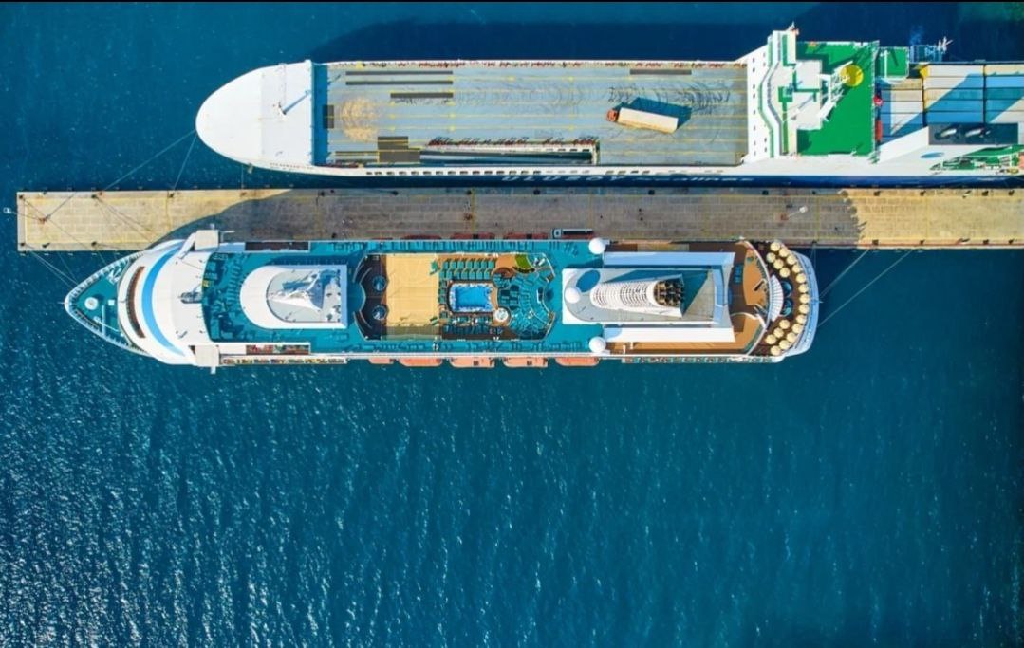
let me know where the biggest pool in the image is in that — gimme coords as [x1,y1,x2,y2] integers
[446,281,494,315]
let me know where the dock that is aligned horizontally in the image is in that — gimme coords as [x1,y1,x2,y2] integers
[17,187,1024,254]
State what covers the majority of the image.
water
